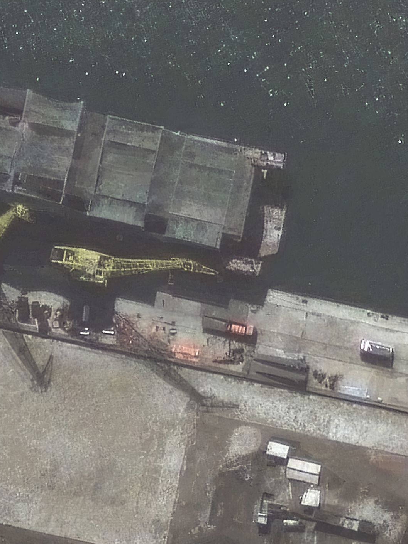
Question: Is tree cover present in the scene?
No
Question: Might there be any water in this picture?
Yes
